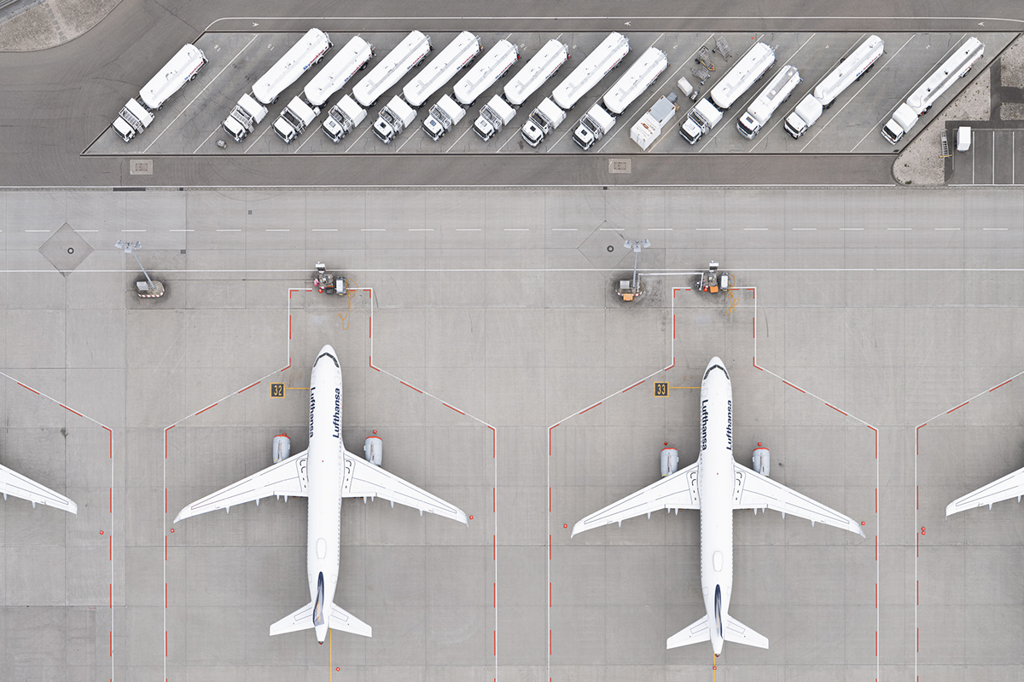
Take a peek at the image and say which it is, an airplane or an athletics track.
airplane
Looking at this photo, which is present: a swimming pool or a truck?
truck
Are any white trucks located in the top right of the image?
Yes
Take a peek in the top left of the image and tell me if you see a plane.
No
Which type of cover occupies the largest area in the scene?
paved ground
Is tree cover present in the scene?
No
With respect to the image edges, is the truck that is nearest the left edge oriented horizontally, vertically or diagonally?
diagonally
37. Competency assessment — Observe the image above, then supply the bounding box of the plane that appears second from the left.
[175,346,468,646]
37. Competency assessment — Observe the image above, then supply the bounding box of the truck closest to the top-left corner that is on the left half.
[108,43,206,147]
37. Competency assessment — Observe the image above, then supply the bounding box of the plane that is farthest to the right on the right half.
[946,466,1024,517]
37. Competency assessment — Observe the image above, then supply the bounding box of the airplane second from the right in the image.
[571,358,865,657]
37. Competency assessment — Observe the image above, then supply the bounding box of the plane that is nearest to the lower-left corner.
[0,463,78,514]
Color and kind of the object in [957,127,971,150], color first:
white vehicle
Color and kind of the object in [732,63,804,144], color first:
white truck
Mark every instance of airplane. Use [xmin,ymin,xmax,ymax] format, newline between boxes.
[175,346,468,646]
[946,466,1024,517]
[0,463,78,514]
[571,358,865,657]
